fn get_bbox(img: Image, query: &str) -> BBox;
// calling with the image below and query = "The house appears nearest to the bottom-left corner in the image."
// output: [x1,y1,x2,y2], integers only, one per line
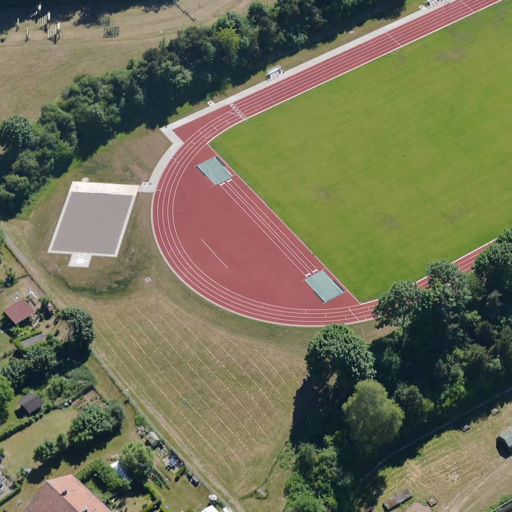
[24,474,109,512]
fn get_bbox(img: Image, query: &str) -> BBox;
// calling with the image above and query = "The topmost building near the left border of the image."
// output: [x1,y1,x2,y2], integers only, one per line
[3,299,34,328]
